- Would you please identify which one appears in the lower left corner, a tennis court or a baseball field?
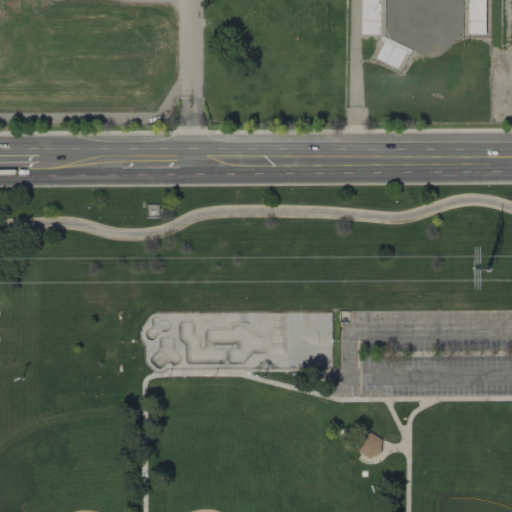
baseball field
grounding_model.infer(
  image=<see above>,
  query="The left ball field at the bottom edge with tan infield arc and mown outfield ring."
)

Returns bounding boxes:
[0,408,141,512]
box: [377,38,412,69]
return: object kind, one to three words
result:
shed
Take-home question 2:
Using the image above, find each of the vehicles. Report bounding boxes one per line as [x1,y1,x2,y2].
[309,146,320,151]
[0,143,10,148]
[0,169,31,176]
[56,155,66,160]
[488,150,500,156]
[148,115,161,123]
[386,144,396,149]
